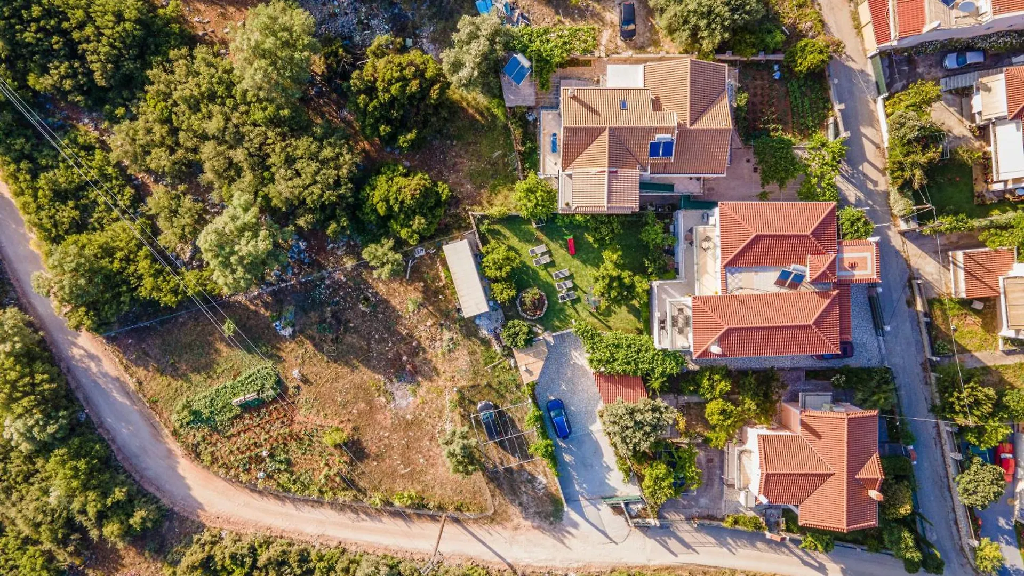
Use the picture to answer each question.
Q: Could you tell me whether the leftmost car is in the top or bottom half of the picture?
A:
bottom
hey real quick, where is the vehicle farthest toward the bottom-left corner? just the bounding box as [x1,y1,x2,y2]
[478,399,503,445]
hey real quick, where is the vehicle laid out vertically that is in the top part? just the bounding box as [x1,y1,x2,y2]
[618,0,639,45]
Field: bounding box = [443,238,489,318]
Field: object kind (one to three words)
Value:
shed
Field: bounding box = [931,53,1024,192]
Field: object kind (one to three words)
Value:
house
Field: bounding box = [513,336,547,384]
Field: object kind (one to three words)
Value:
shed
